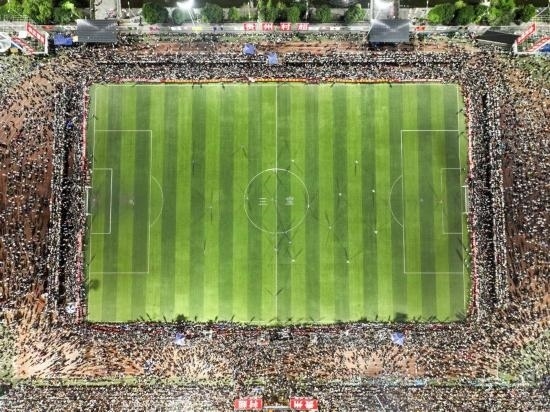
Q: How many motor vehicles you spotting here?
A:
0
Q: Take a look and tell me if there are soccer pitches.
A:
Yes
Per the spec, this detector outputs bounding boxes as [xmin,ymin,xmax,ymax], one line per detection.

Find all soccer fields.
[82,80,472,325]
